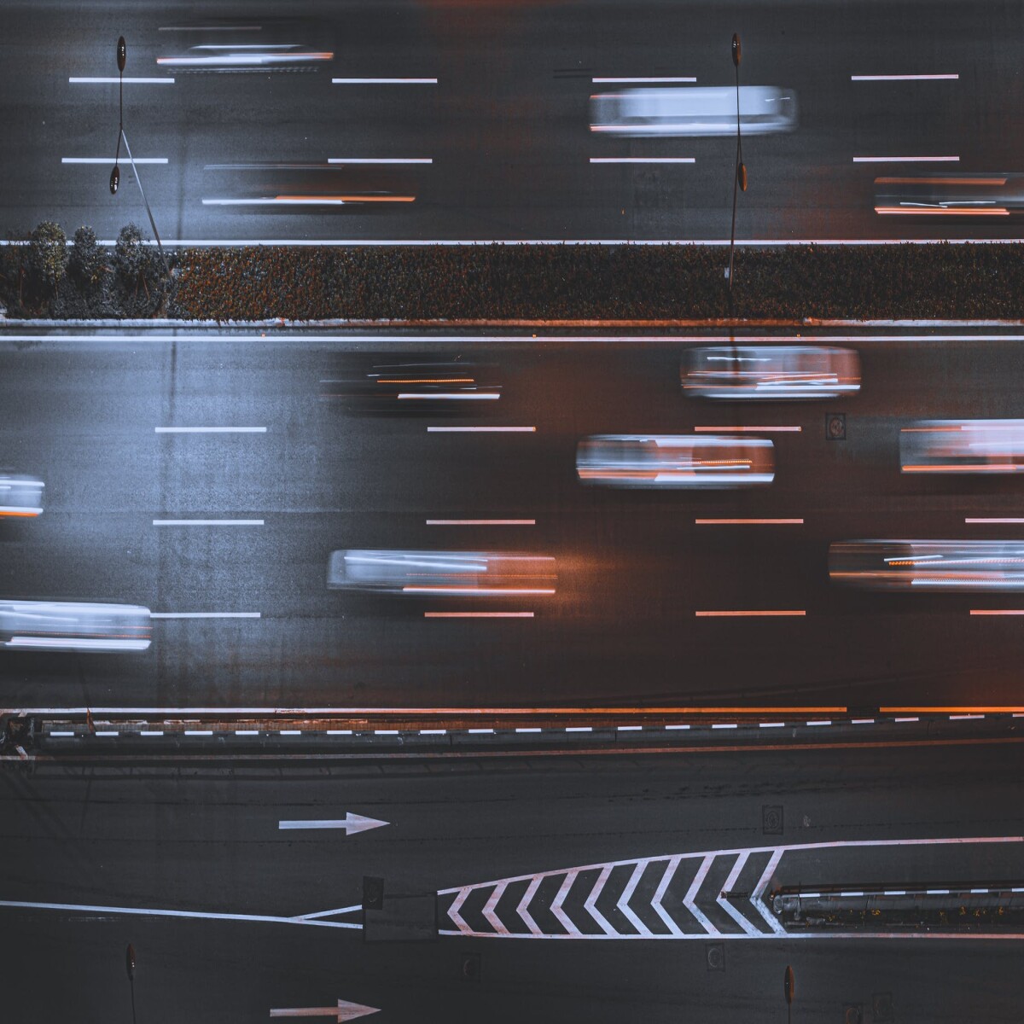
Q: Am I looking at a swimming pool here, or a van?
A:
van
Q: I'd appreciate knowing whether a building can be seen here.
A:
No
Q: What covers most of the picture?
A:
paved ground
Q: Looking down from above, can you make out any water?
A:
No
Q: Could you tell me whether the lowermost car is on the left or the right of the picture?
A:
left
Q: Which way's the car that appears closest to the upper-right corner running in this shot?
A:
from side to side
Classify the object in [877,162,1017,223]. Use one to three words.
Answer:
car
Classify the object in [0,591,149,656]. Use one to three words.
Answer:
car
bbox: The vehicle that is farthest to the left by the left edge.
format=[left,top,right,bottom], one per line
[0,469,40,523]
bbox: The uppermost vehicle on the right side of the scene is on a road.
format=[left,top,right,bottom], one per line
[608,72,778,138]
